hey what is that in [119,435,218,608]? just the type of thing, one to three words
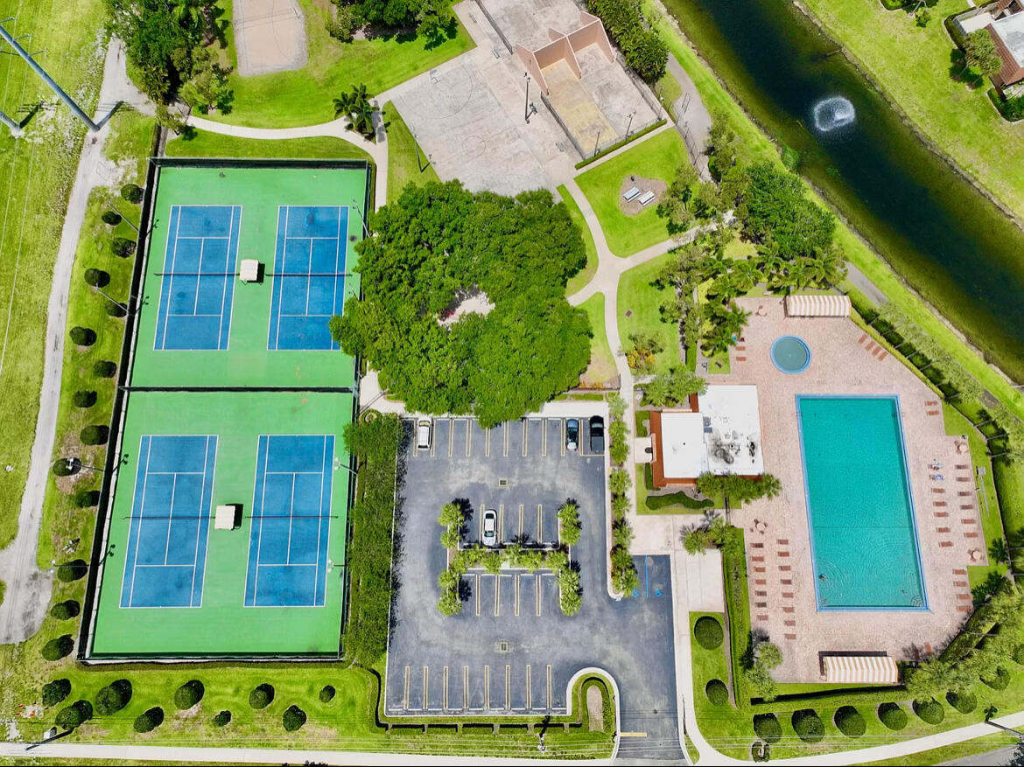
tennis court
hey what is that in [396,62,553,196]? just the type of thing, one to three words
basketball court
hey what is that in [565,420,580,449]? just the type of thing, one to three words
car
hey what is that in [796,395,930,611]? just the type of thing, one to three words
swimming pool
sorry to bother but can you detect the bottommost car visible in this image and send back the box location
[482,511,497,545]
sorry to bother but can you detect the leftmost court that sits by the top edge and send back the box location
[230,0,307,77]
